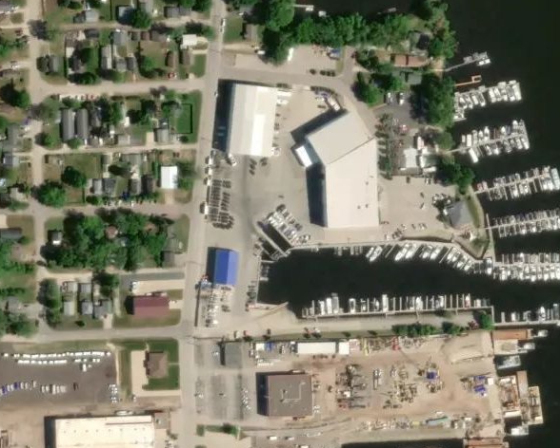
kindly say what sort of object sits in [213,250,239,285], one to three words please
shed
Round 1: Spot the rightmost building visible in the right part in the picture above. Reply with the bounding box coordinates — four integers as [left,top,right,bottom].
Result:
[447,202,473,226]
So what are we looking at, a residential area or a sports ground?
residential area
